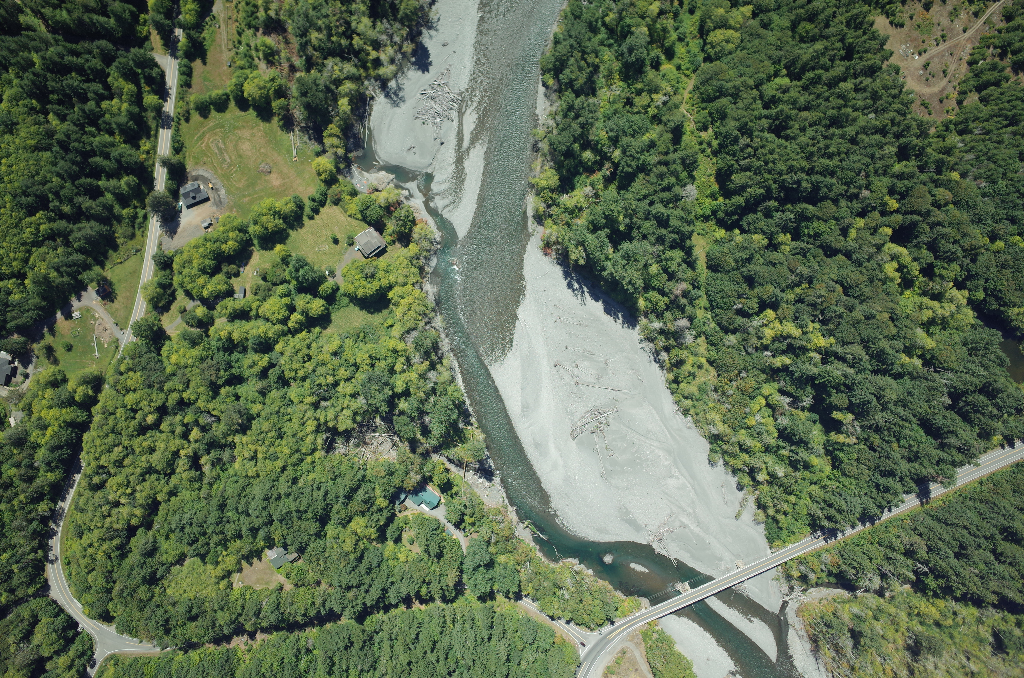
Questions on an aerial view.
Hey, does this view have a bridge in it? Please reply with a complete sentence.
Yes, you can see a bridge in this photo.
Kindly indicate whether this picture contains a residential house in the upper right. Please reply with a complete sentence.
No, no residential house is visible in the upper right.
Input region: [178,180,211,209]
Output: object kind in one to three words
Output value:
house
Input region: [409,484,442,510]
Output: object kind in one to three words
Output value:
house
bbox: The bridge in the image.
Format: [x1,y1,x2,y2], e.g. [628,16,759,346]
[647,550,781,624]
